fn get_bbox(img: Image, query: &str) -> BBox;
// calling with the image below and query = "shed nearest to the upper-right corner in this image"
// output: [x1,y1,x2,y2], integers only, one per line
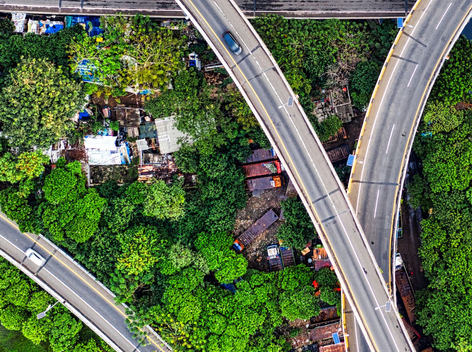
[334,98,355,121]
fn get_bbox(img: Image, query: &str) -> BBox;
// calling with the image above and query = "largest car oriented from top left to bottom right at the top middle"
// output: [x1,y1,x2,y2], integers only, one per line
[222,30,243,55]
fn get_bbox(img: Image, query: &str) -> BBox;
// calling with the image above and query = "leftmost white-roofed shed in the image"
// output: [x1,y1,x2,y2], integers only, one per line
[11,13,32,32]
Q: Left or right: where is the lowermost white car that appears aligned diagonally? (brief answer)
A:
left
